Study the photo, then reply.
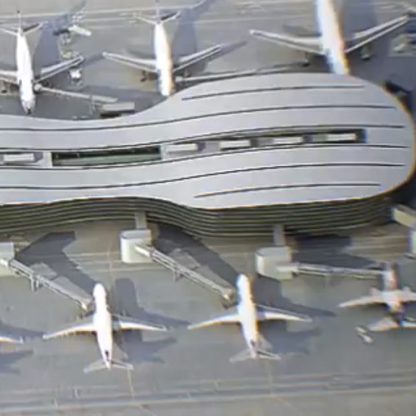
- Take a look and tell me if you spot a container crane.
No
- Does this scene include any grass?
No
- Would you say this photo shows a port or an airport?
airport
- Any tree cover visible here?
No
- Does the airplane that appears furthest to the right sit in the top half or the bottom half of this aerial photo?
bottom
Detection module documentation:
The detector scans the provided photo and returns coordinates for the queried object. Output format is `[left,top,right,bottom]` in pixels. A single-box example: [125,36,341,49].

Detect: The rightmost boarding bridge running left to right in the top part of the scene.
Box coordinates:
[172,60,302,85]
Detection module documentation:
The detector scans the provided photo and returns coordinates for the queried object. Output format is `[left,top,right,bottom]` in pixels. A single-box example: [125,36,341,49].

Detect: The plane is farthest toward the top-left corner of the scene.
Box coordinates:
[0,13,83,113]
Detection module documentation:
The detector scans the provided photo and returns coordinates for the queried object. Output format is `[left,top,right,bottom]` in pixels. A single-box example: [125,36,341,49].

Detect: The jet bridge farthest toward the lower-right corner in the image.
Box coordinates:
[279,258,388,290]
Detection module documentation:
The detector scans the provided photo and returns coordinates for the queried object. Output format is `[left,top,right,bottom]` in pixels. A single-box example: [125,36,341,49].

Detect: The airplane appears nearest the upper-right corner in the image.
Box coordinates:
[255,0,410,76]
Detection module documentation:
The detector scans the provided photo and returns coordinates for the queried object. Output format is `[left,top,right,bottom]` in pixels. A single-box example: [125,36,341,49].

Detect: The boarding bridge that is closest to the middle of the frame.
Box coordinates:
[139,240,238,302]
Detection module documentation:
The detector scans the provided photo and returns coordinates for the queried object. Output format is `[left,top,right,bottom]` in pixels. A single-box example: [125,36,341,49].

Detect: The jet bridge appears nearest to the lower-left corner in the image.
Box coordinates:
[2,254,95,312]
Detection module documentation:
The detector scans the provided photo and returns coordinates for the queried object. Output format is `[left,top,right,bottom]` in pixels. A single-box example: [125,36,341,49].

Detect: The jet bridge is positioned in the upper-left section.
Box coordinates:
[32,81,116,111]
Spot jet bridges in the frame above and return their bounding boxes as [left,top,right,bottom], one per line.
[279,258,388,290]
[172,60,302,85]
[2,254,95,312]
[139,240,238,302]
[32,81,116,111]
